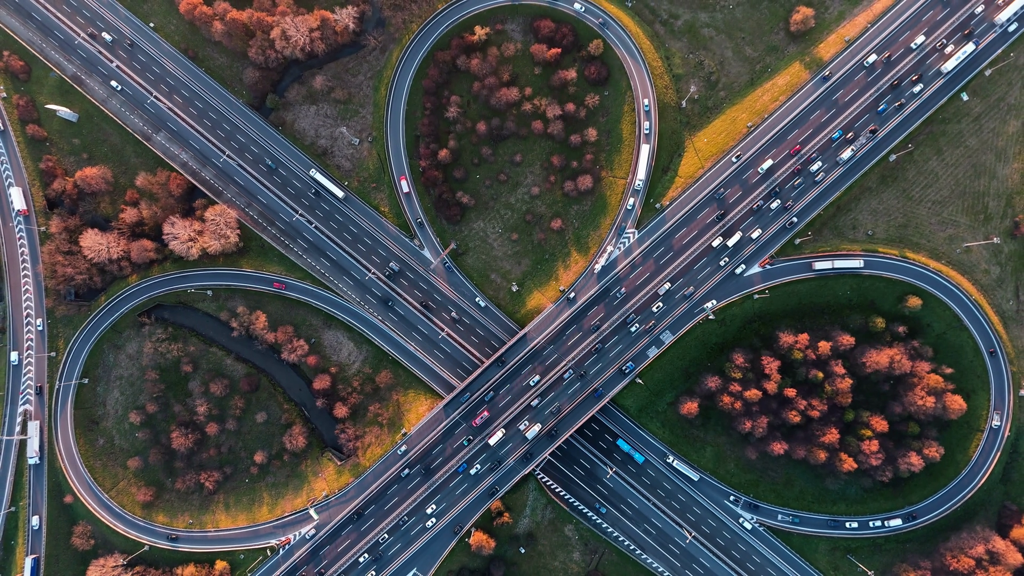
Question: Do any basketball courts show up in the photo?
No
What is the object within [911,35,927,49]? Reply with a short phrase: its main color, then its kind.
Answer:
white vehicle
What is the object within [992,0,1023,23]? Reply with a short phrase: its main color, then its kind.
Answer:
white truck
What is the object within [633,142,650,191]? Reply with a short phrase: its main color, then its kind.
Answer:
white vehicle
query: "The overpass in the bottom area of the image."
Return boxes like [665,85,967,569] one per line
[437,324,615,480]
